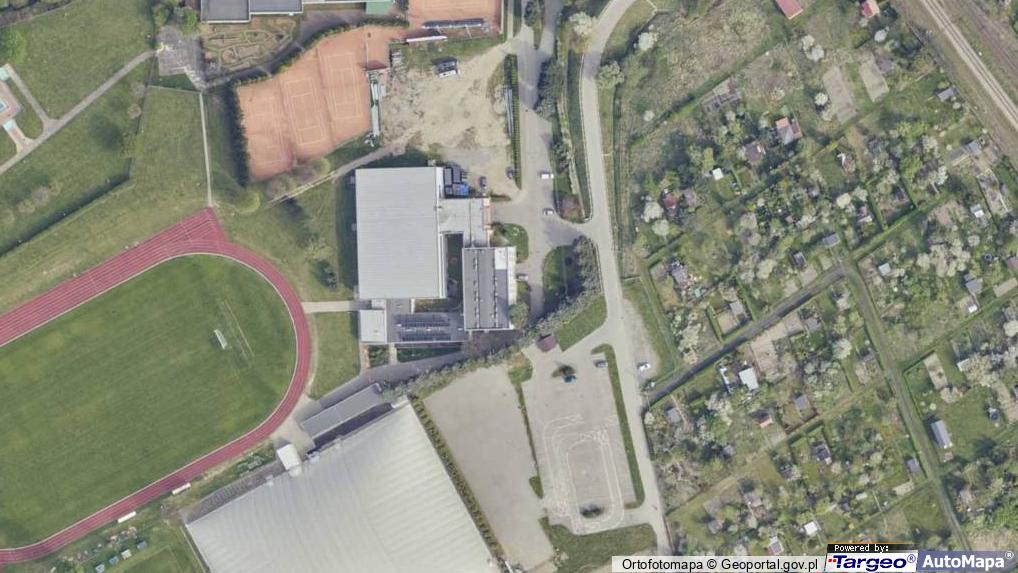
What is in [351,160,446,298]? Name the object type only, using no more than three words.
building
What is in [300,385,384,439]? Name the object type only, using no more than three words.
building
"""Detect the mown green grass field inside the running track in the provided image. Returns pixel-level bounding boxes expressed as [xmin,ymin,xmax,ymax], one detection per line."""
[0,254,296,549]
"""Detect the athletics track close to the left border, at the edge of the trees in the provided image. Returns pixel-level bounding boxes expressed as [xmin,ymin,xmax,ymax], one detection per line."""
[0,205,311,564]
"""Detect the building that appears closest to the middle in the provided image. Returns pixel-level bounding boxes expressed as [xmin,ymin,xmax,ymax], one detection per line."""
[462,247,517,332]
